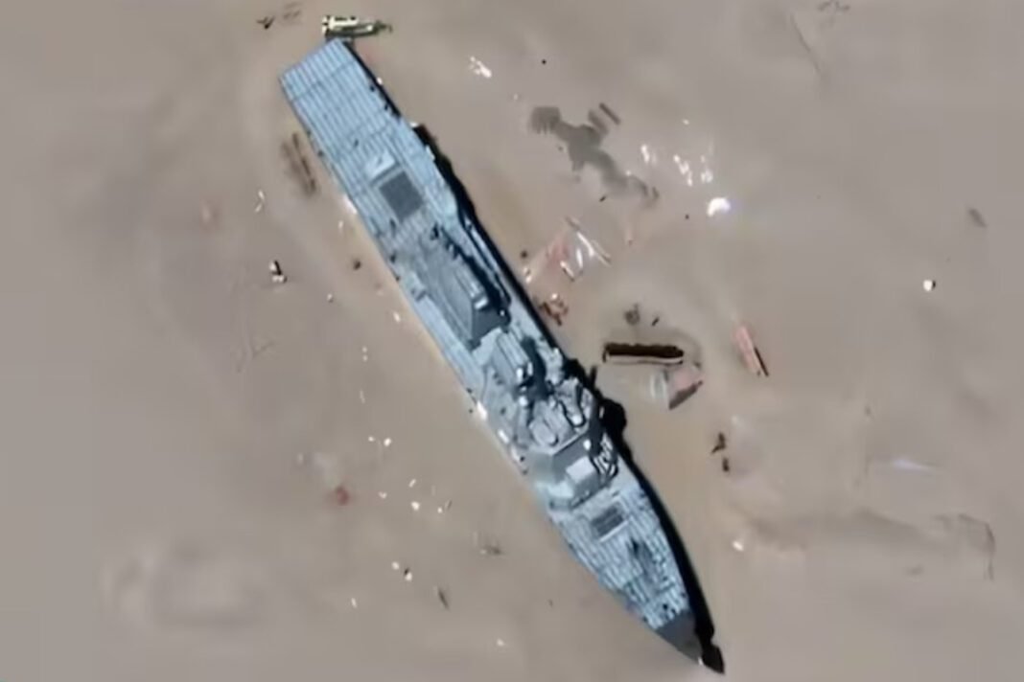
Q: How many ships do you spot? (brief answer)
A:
1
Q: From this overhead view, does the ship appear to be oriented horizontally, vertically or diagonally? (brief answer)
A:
diagonally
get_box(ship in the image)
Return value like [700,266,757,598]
[280,38,704,665]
